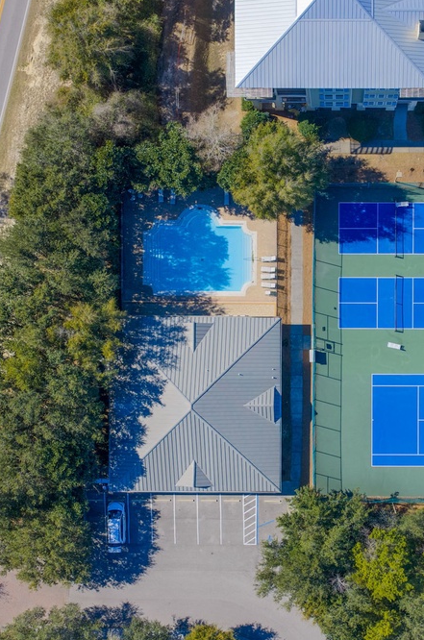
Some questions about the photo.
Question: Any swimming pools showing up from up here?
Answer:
Yes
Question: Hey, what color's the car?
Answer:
blue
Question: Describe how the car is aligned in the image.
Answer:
from top to bottom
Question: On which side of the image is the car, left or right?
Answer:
left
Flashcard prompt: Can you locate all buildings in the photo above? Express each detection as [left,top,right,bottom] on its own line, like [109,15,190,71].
[226,0,424,111]
[95,315,282,494]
